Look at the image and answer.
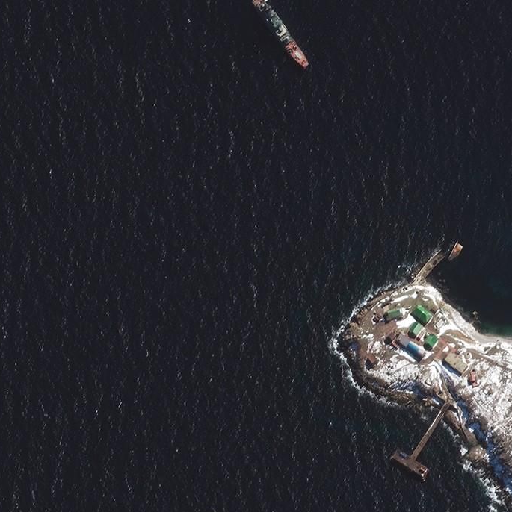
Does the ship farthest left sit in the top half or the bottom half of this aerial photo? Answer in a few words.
top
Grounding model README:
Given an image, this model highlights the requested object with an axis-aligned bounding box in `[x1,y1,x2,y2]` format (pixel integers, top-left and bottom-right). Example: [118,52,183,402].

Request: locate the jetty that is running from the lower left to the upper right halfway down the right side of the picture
[413,250,444,285]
